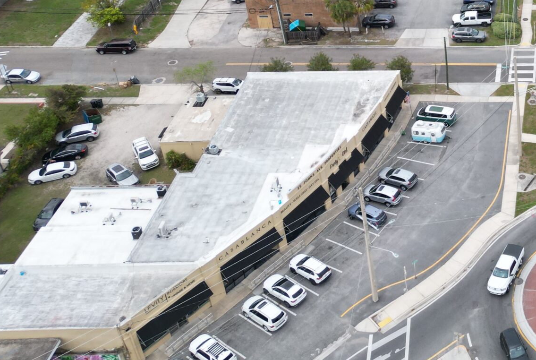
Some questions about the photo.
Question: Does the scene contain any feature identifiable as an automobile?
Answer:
Yes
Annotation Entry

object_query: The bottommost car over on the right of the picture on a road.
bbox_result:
[496,325,531,360]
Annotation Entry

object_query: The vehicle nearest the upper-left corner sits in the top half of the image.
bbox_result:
[0,68,43,85]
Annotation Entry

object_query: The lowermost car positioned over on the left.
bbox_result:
[187,333,237,360]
